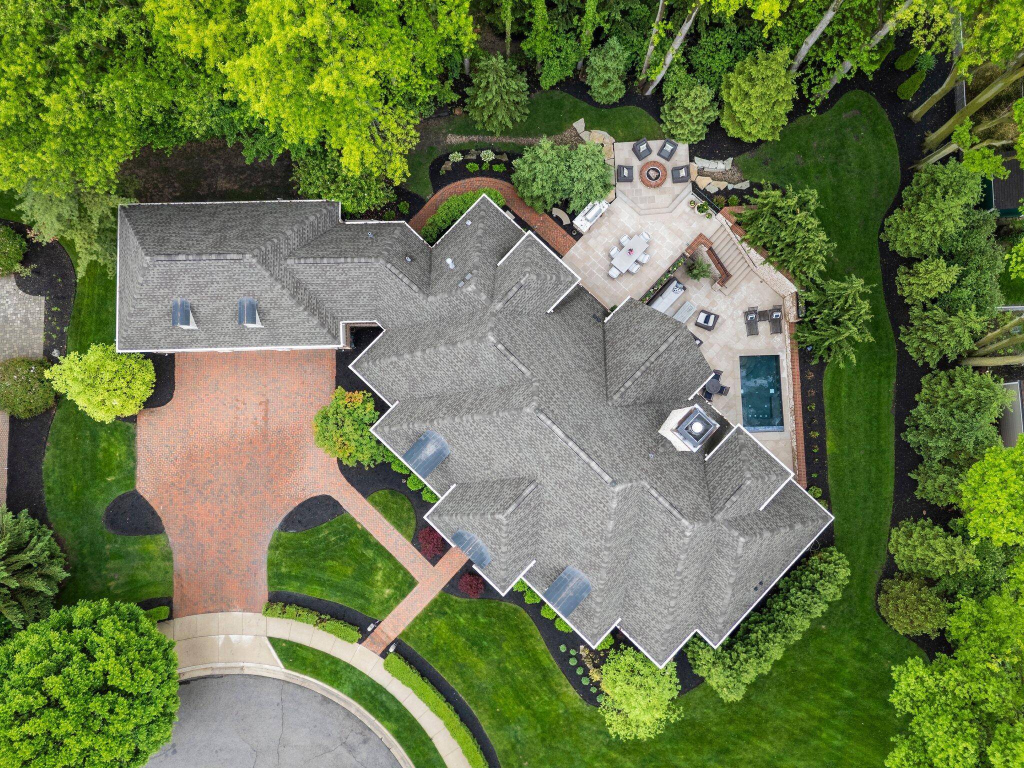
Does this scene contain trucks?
No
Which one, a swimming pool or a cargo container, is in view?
swimming pool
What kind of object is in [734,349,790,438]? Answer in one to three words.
swimming pool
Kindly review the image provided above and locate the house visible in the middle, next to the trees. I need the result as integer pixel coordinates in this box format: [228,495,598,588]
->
[115,192,837,672]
